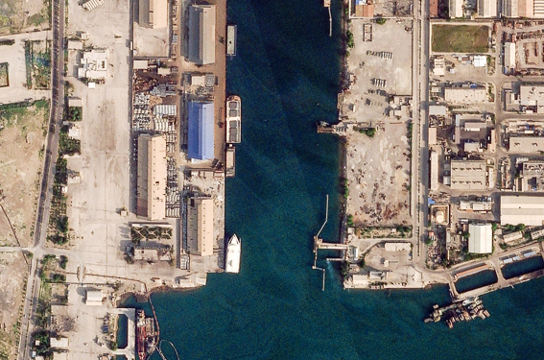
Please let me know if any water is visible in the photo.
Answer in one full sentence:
Yes, water shows up in the scene.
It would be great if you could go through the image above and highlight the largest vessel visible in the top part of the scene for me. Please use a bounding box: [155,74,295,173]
[226,94,241,144]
